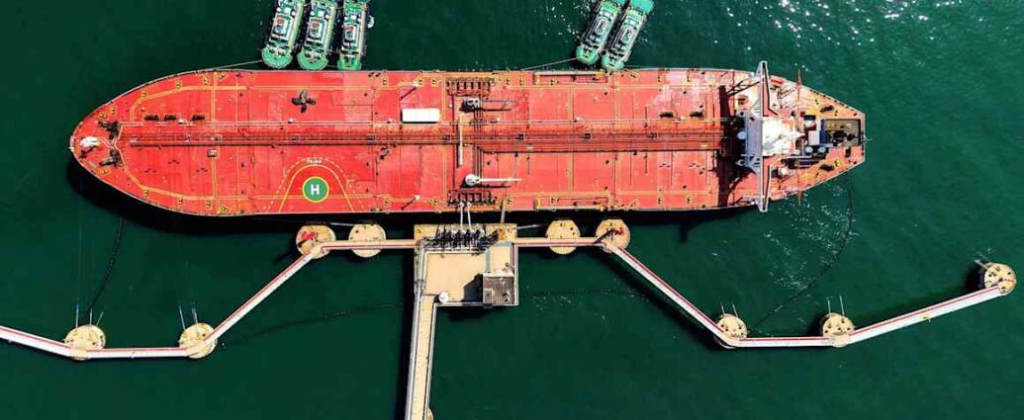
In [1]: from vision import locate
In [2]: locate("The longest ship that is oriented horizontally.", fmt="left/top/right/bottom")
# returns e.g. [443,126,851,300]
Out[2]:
[66,61,875,216]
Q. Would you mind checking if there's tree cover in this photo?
No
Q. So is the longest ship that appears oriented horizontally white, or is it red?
red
